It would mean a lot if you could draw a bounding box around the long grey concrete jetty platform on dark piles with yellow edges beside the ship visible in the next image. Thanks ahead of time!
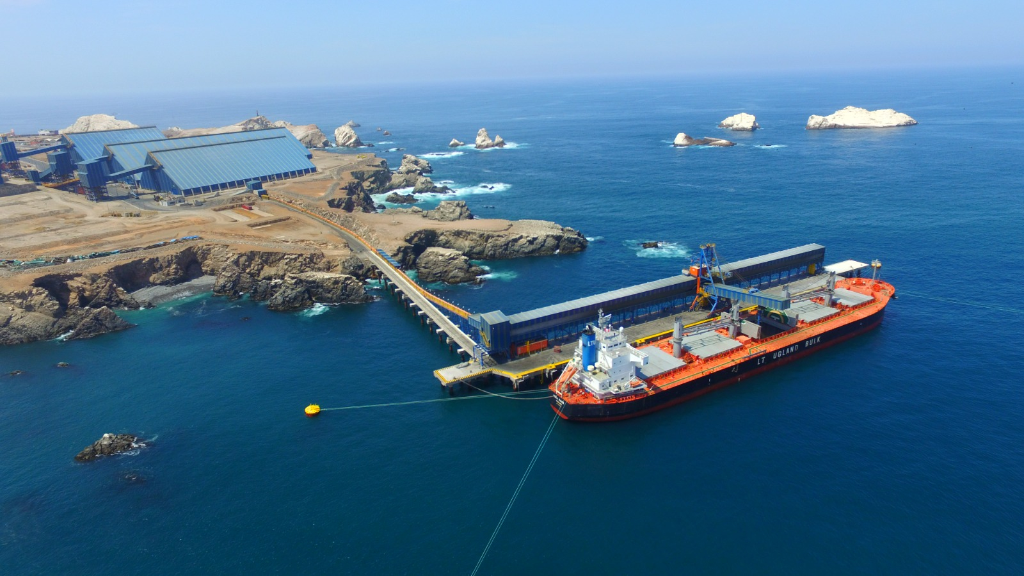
[434,268,856,399]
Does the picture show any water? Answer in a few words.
Yes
